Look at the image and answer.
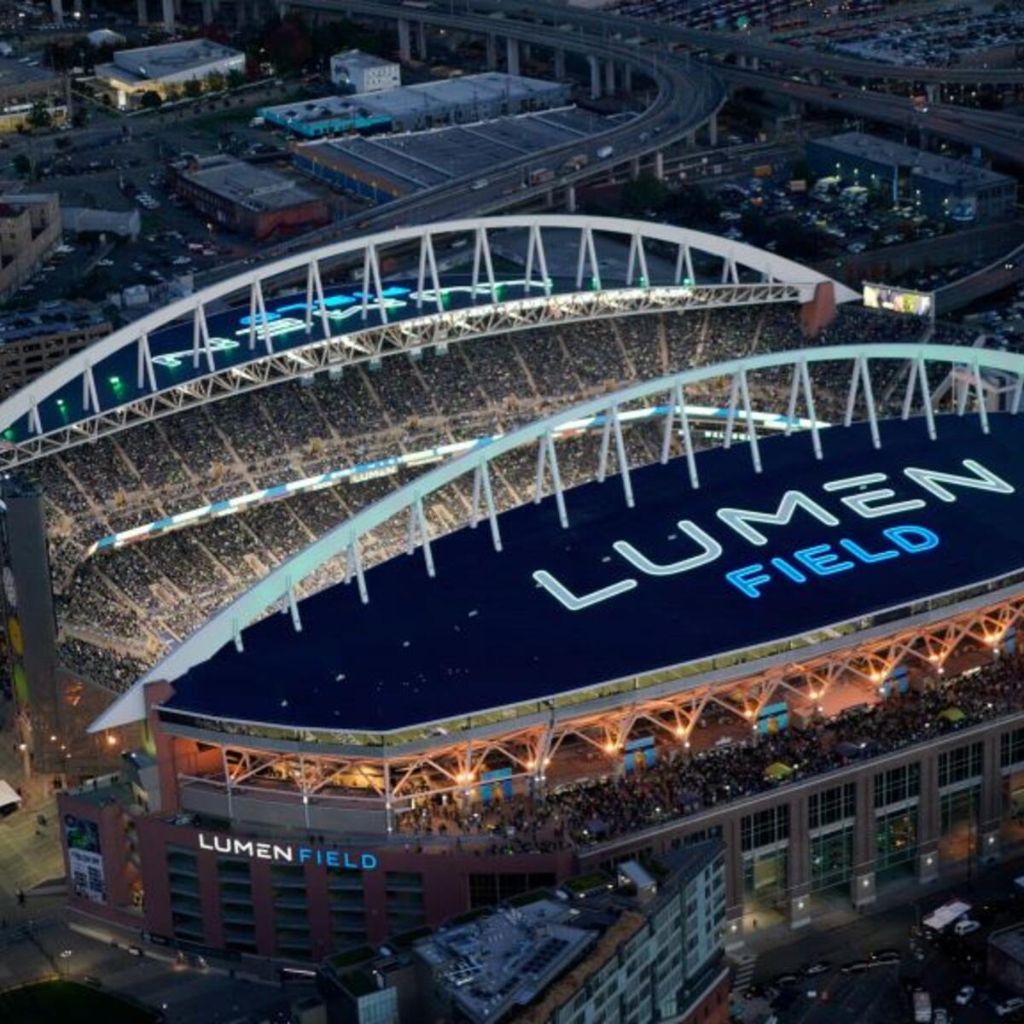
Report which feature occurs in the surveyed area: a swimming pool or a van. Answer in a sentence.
The one in the frame is a van.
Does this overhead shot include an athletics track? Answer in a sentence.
No, the scene contains no athletics track.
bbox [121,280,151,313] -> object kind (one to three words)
house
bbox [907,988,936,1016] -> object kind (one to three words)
van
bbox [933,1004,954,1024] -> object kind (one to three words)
car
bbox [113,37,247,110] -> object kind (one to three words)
building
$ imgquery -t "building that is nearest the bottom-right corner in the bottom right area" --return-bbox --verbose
[987,914,1024,987]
